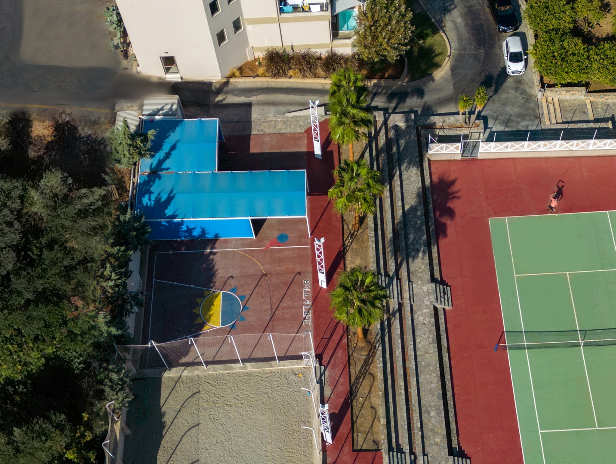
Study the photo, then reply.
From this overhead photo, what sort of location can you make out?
sports ground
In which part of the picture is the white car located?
top right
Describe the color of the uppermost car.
black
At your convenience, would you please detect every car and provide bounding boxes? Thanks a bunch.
[491,0,518,33]
[503,37,528,75]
